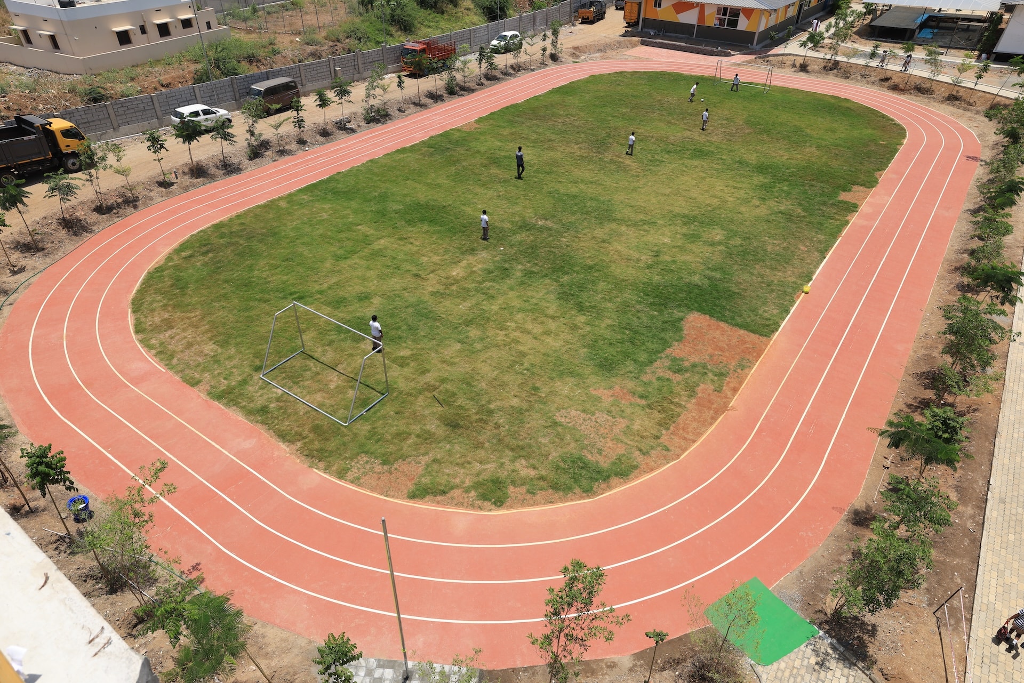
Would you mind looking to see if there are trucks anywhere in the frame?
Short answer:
Yes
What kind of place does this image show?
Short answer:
sports ground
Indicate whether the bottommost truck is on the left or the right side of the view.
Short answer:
left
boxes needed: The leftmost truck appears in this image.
[0,112,83,186]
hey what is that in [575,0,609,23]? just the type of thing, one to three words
truck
